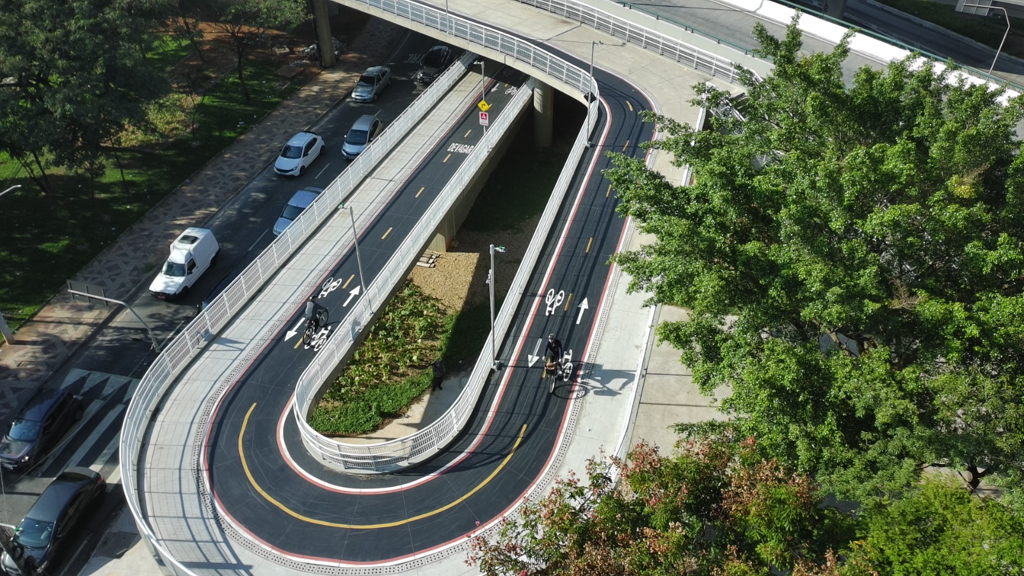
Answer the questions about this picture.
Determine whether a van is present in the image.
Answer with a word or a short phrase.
Yes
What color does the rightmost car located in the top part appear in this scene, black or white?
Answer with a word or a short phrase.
black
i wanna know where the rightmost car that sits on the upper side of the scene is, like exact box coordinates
[414,42,454,81]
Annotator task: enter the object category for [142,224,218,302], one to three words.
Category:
van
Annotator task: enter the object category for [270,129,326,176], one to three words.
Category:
car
